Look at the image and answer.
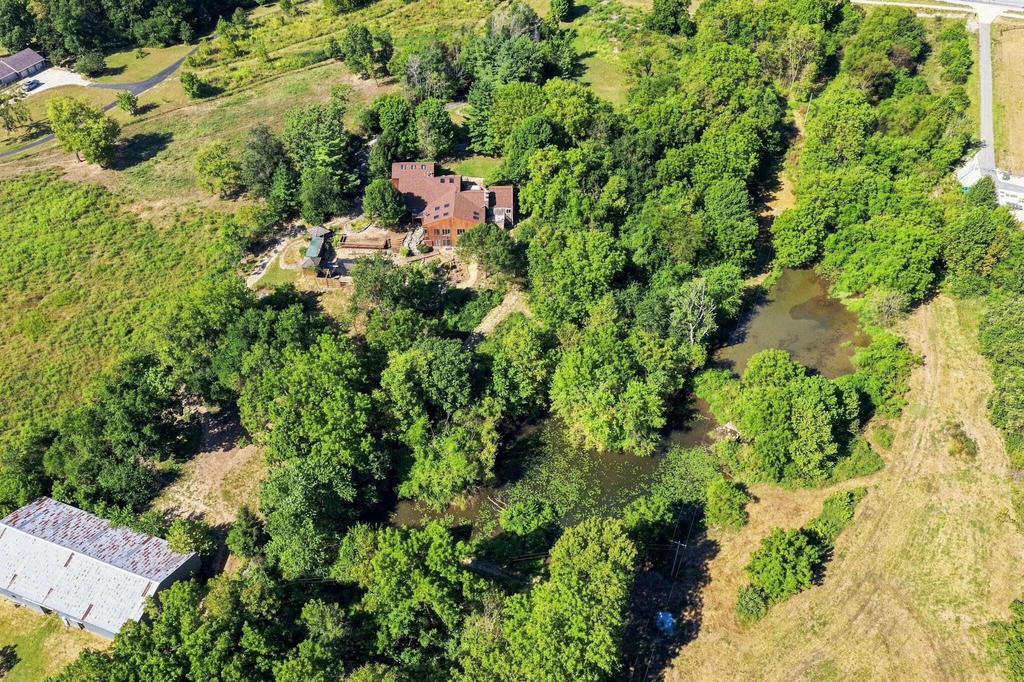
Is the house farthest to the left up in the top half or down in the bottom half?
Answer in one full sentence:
You can find the house farthest to the left in the top half.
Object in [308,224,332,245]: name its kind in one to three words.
building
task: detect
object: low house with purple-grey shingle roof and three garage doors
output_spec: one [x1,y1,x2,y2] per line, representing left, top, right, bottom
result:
[0,49,49,88]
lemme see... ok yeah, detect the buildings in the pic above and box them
[390,162,514,249]
[296,259,321,282]
[0,487,200,655]
[308,224,332,245]
[0,49,49,88]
